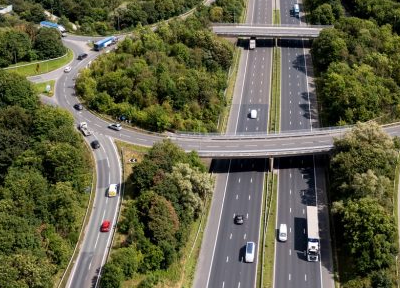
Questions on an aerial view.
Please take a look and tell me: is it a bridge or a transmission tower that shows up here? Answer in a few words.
bridge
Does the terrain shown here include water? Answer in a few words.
No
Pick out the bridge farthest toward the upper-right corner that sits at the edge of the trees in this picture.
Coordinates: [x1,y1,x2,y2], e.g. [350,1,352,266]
[217,24,332,47]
